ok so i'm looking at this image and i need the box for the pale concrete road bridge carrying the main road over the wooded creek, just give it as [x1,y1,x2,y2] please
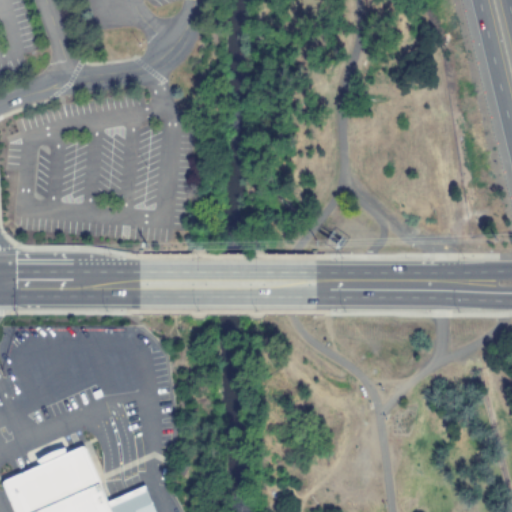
[138,252,319,315]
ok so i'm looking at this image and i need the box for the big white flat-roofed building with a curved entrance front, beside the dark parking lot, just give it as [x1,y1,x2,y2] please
[3,446,115,512]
